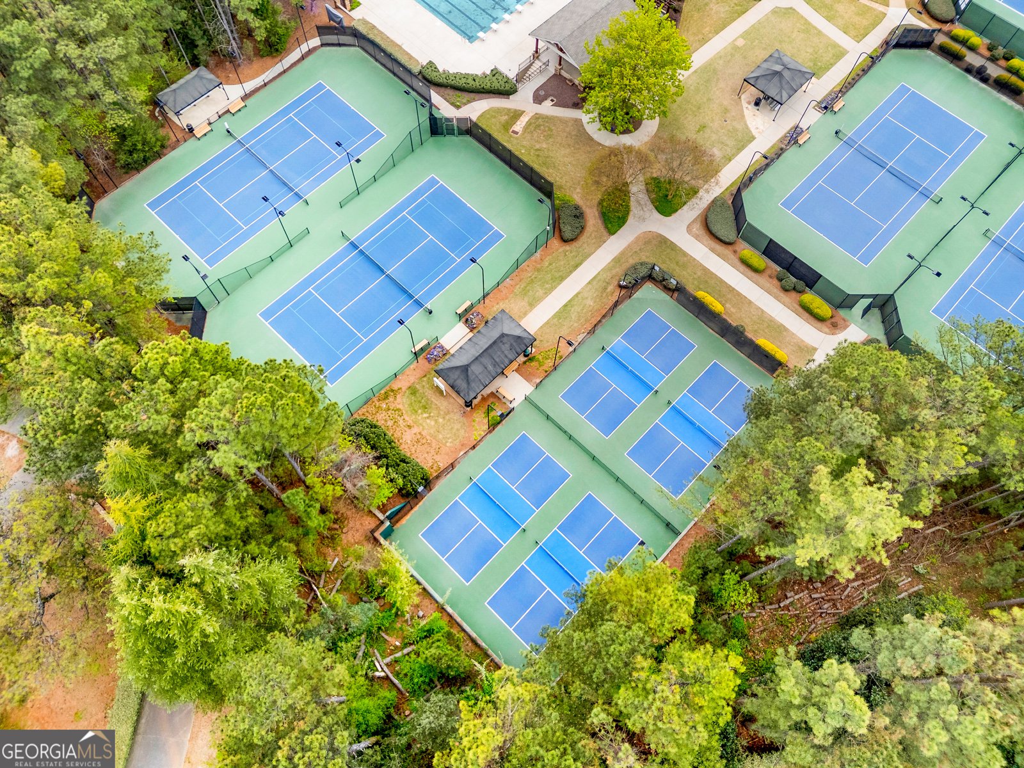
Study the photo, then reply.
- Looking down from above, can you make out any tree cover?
Yes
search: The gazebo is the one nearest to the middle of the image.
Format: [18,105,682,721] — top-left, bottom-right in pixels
[434,309,536,404]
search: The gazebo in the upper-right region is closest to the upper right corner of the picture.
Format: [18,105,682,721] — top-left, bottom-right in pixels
[740,49,815,119]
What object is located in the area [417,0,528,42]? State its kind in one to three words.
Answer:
swimming pool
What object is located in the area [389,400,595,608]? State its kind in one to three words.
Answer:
sports court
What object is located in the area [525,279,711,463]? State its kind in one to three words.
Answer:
sports court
